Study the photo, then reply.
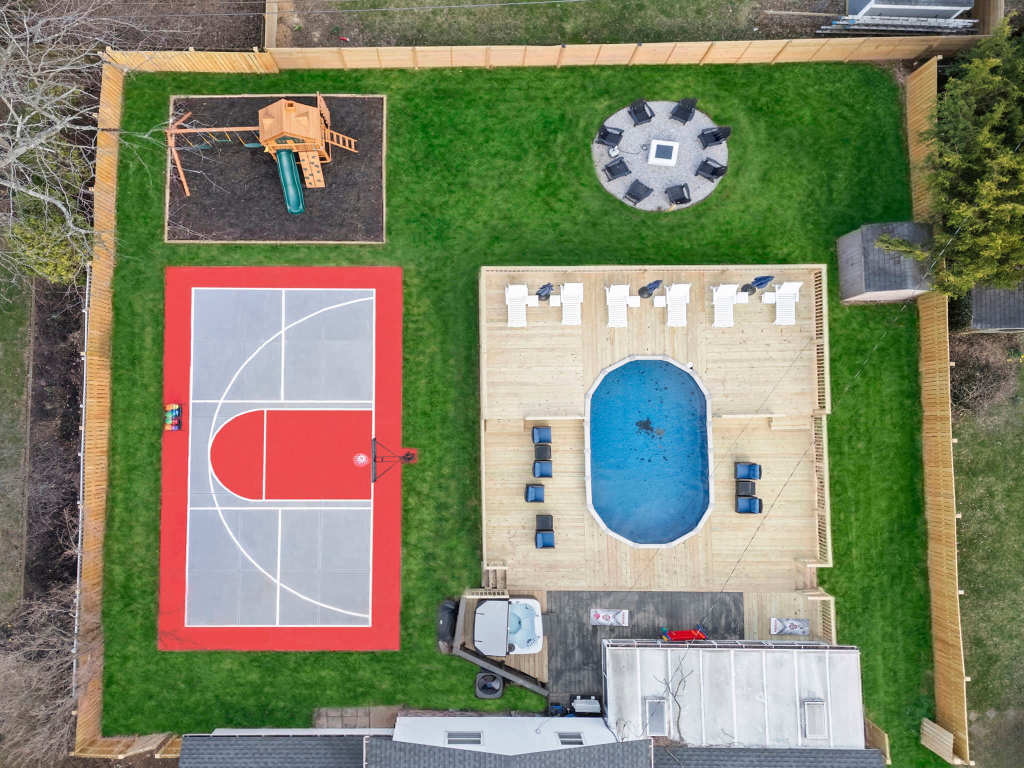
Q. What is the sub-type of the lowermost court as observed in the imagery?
basketball court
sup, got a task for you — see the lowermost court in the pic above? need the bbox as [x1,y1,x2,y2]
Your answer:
[159,266,417,652]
